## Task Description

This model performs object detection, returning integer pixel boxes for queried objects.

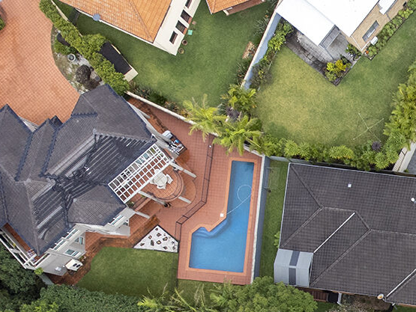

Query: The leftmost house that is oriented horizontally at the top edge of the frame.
[66,0,200,57]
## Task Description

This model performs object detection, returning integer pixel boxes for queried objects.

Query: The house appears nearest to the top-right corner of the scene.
[272,0,393,54]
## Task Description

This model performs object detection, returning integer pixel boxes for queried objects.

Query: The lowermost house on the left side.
[0,82,173,273]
